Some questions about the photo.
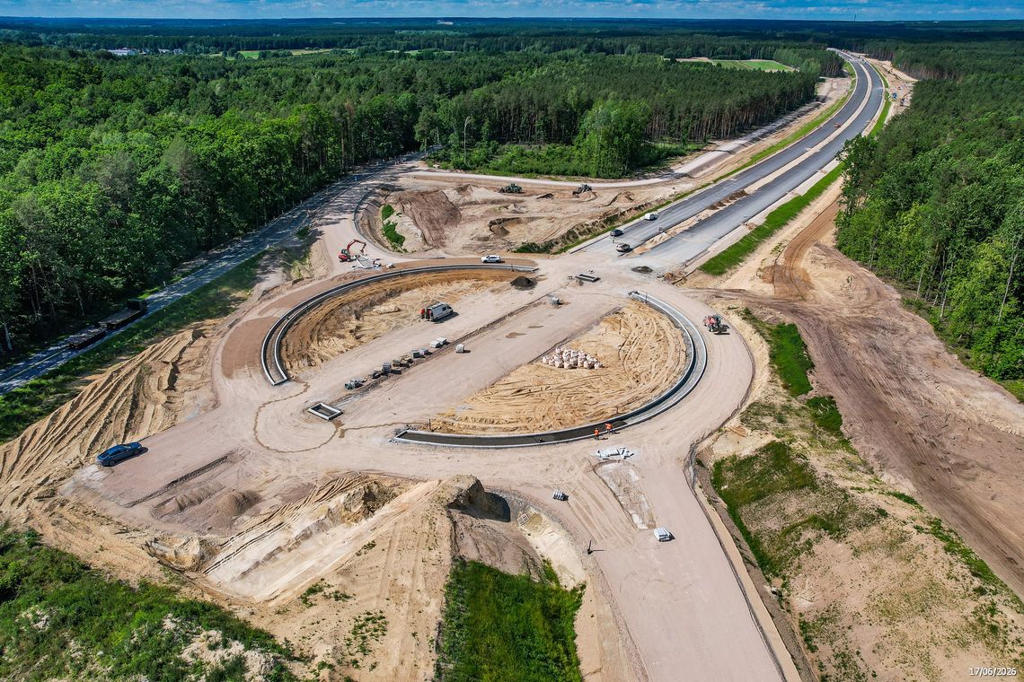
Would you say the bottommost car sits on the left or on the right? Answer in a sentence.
It is on the left.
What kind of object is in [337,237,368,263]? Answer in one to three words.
work vehicle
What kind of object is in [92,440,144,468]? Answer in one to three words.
car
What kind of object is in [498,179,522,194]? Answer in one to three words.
work vehicle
